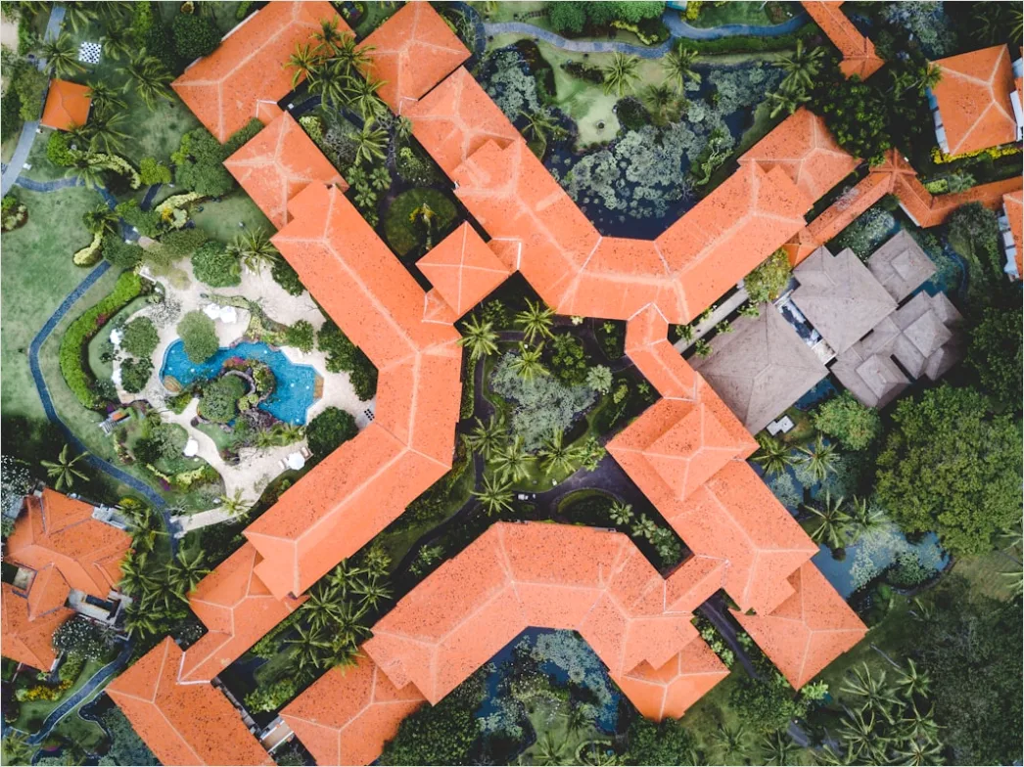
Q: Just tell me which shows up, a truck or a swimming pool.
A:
swimming pool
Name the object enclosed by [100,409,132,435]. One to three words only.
shed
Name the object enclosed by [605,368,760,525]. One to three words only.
building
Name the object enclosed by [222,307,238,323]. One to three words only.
umbrella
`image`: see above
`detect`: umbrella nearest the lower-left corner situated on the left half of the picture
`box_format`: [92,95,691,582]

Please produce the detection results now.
[185,439,201,455]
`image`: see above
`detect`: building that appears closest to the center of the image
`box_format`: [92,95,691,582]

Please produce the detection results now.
[416,220,509,316]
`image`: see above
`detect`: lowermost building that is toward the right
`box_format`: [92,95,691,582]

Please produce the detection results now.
[622,640,729,722]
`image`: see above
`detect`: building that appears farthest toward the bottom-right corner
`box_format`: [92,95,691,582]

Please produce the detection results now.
[728,560,868,690]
